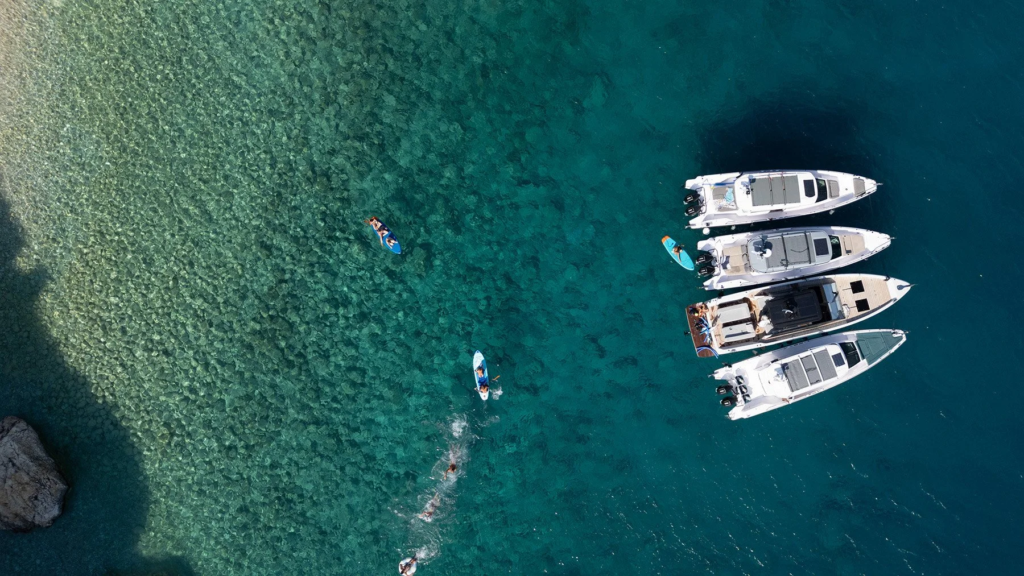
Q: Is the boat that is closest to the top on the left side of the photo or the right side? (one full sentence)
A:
It is on the right.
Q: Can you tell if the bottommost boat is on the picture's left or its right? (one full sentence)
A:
You can find the bottommost boat on the right side of the picture.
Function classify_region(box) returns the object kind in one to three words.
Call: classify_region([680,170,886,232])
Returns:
boat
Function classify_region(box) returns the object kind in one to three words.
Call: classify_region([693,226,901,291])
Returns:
boat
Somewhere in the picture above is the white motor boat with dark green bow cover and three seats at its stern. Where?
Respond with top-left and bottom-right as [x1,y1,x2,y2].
[711,329,915,418]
